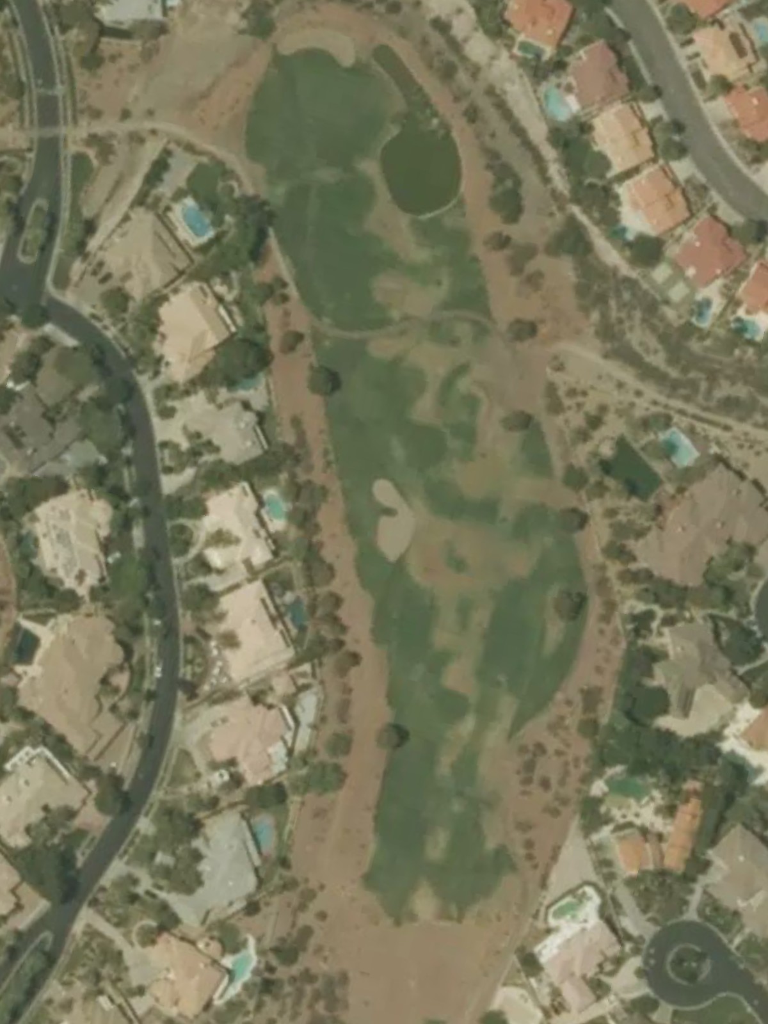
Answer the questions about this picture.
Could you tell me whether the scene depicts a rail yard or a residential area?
residential area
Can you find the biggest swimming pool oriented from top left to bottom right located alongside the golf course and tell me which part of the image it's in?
bottom right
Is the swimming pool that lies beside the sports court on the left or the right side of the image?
right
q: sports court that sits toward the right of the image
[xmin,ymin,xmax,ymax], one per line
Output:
[605,432,663,503]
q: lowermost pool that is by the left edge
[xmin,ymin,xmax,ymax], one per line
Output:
[12,627,41,663]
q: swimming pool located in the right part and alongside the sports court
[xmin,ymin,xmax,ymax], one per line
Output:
[658,427,701,469]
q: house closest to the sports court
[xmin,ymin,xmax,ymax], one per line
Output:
[637,464,768,590]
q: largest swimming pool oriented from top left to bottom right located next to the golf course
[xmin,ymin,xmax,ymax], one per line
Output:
[590,773,673,835]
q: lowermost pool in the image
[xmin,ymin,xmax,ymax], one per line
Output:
[218,934,257,1003]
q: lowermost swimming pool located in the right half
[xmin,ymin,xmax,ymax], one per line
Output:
[533,886,600,964]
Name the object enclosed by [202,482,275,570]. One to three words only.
house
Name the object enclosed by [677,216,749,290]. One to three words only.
house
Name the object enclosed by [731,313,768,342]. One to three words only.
swimming pool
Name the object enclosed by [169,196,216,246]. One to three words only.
swimming pool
